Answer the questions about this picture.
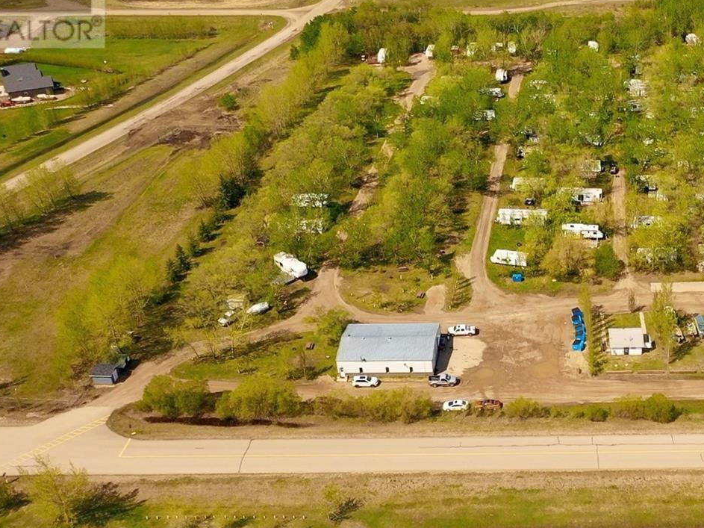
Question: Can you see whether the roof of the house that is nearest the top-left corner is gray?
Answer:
Yes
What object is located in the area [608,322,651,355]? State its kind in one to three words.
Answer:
building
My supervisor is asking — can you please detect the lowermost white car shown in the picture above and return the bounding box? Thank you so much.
[441,400,469,412]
